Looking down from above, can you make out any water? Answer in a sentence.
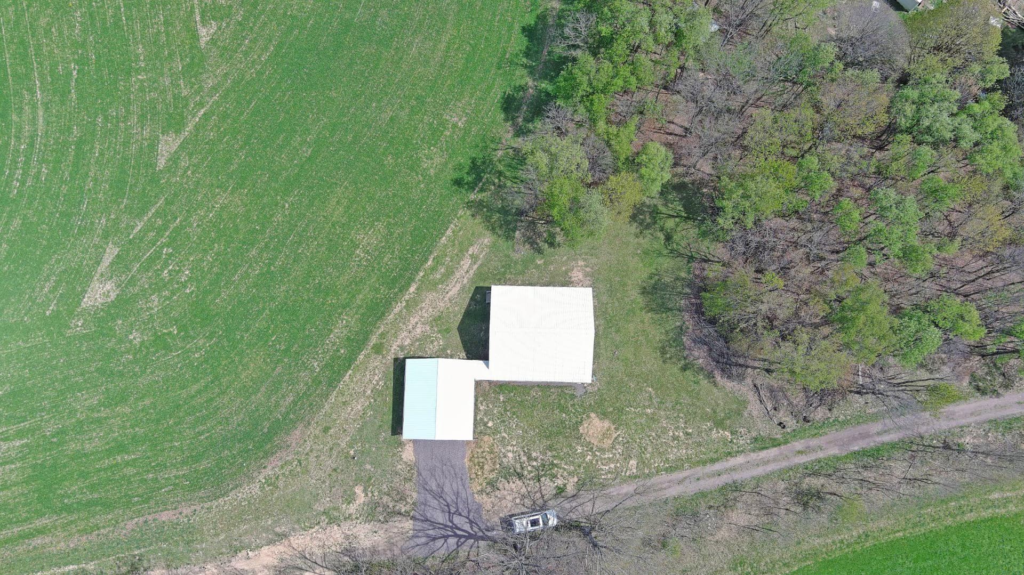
No, there's no water in this view.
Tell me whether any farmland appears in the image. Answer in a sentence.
Yes, some farmland is visible.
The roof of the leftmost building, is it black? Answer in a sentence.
No, the color of the roof of the leftmost building is white.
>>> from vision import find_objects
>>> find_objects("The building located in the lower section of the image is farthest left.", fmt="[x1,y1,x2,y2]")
[401,358,476,441]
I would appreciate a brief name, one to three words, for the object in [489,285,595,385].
barn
